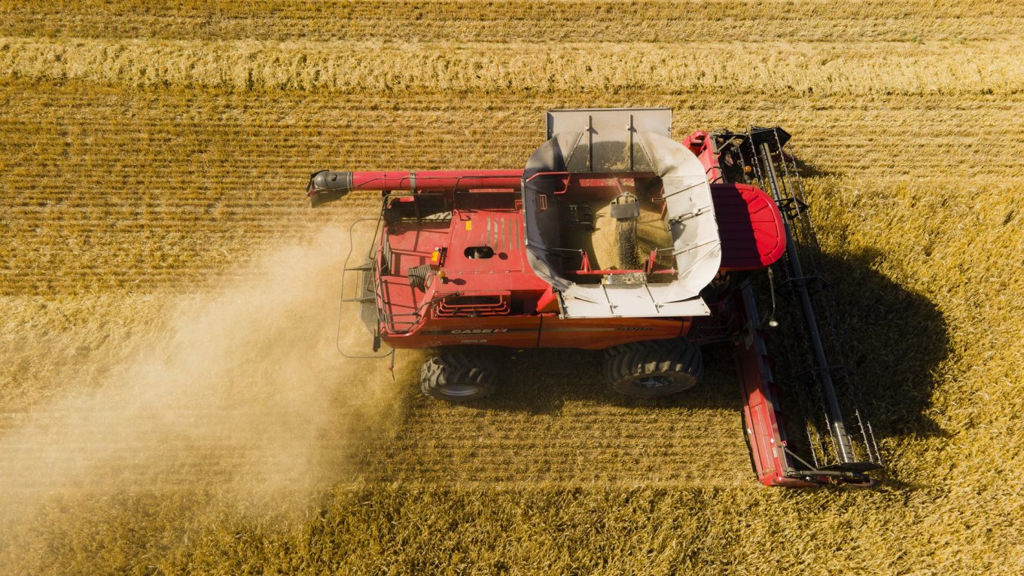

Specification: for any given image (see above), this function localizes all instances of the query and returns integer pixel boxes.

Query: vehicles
[307,108,891,487]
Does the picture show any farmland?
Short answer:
Yes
